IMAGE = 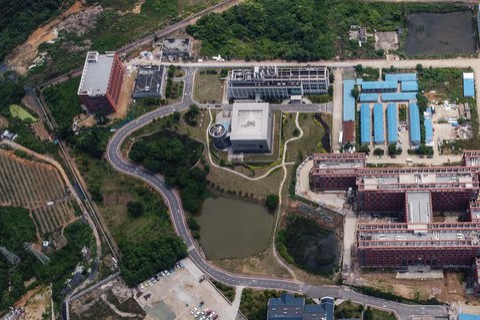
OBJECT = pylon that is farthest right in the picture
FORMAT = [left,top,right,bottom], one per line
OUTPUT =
[20,240,52,271]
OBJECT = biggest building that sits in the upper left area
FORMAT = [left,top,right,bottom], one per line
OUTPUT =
[76,50,124,113]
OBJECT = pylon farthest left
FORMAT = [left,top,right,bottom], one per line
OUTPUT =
[0,241,20,266]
